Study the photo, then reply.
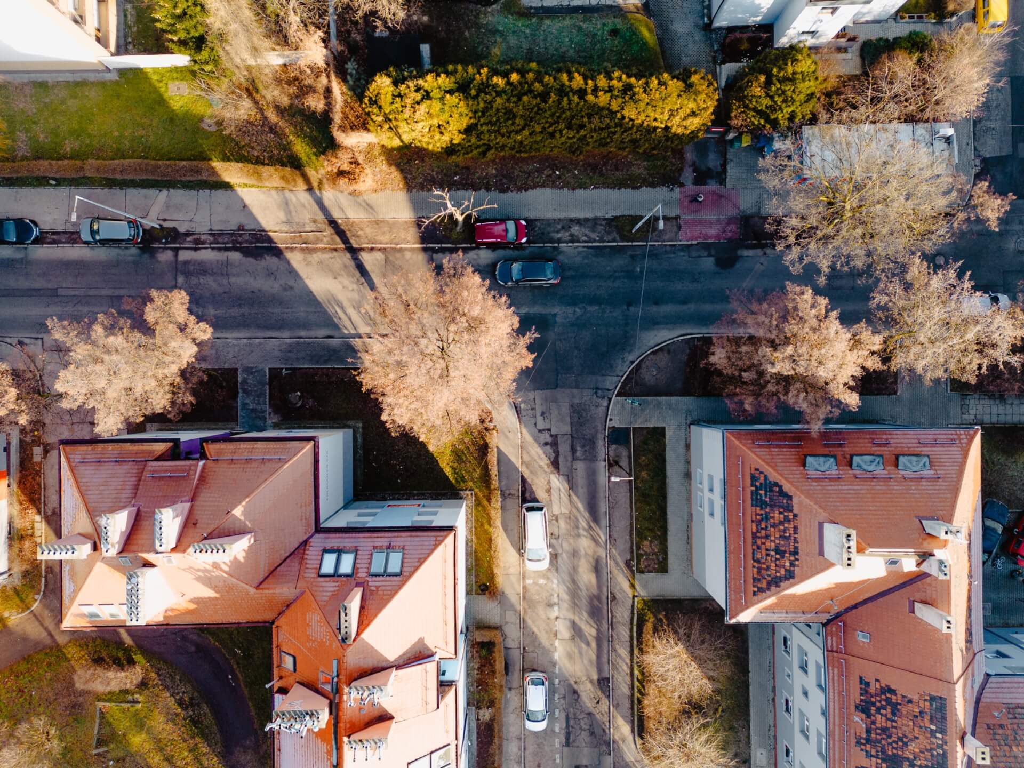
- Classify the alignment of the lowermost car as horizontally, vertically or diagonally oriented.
vertically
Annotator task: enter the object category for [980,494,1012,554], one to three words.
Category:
car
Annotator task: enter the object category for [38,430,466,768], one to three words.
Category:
house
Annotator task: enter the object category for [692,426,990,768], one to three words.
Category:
house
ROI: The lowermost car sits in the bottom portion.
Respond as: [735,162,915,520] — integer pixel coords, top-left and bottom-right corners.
[522,669,550,728]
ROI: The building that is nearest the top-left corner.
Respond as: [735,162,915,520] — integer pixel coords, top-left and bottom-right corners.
[0,0,118,70]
